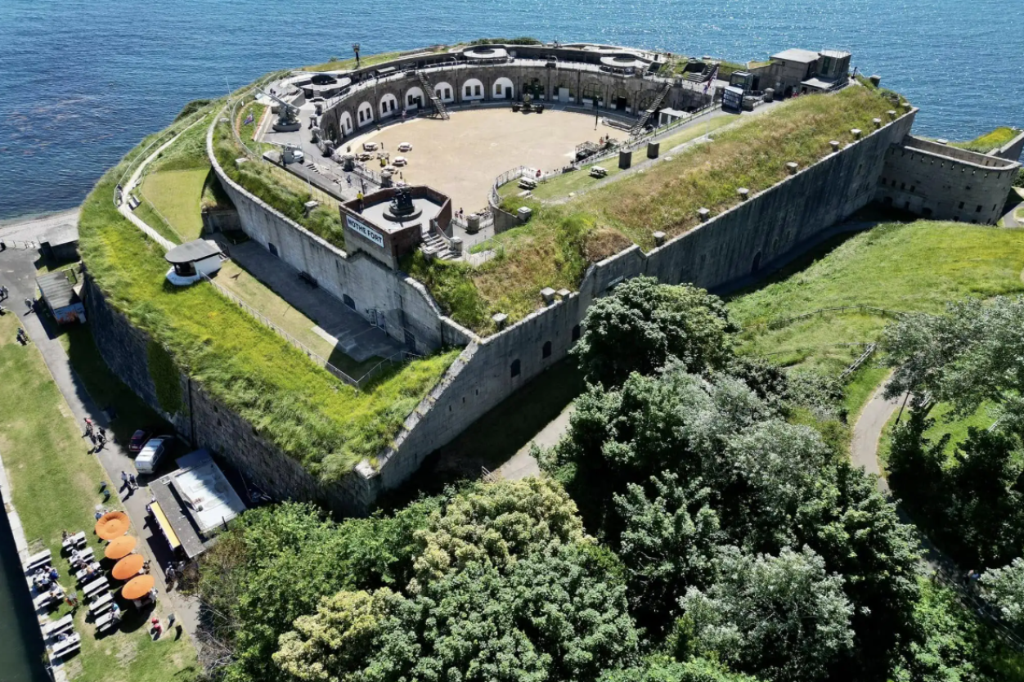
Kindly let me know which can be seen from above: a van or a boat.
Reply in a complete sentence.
I can see a van in this picture.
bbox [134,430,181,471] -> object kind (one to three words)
van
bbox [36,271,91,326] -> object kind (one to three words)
shed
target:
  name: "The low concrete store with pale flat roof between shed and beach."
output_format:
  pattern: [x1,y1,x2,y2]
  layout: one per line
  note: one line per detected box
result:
[38,225,80,265]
